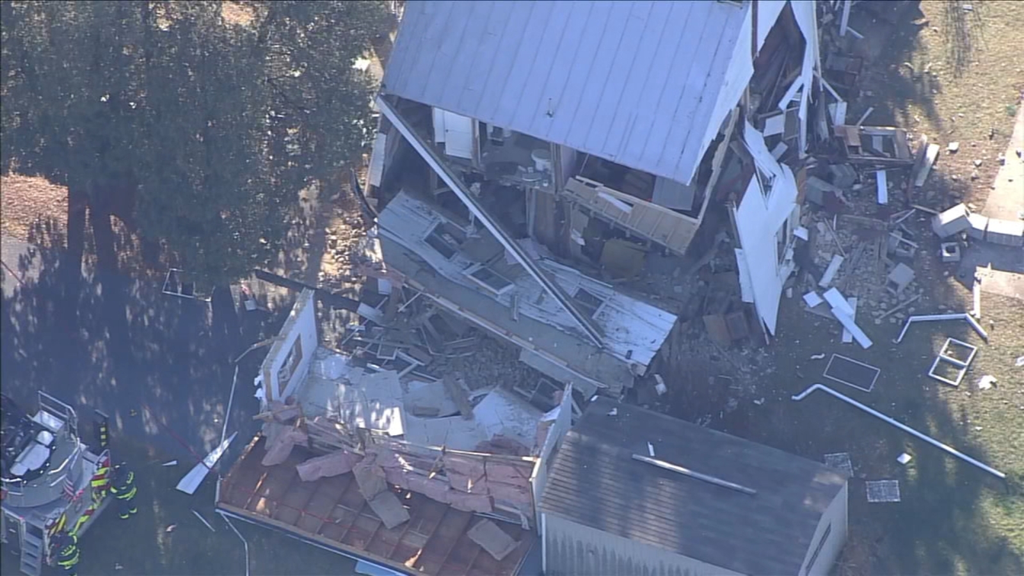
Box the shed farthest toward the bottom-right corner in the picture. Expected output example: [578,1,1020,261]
[538,395,848,576]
